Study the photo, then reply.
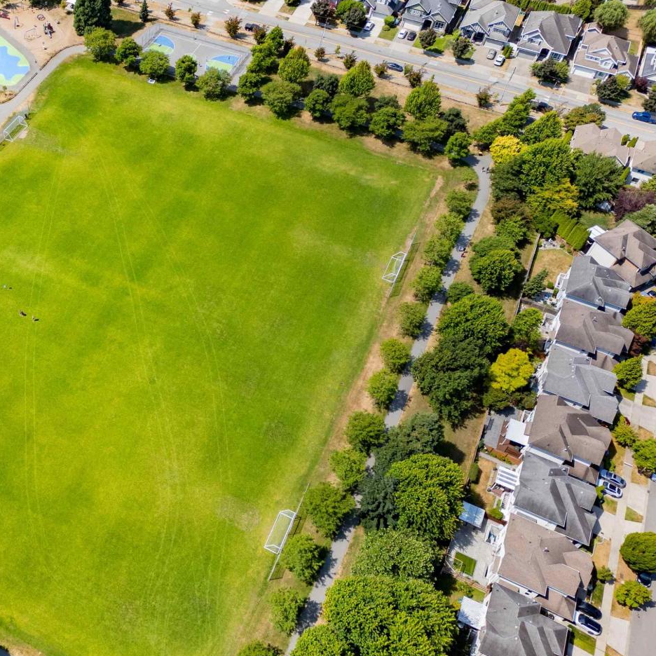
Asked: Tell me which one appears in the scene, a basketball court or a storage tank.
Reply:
basketball court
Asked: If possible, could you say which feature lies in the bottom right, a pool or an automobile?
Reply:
automobile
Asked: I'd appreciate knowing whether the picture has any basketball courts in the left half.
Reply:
Yes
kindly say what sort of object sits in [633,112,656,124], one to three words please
vehicle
